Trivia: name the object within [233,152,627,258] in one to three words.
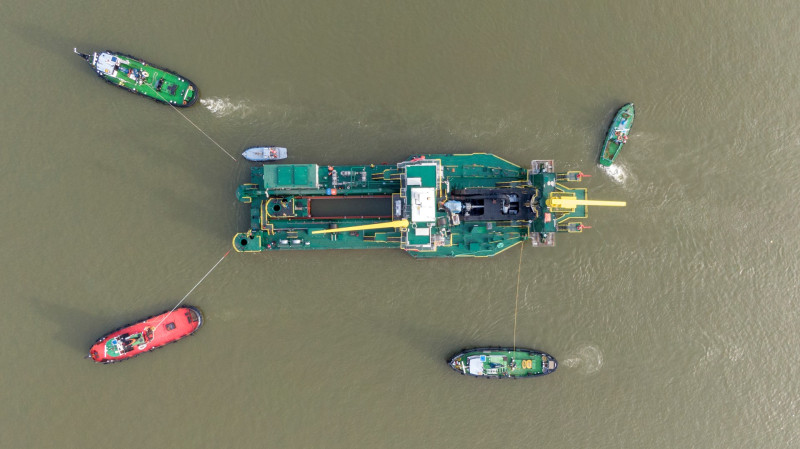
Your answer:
ship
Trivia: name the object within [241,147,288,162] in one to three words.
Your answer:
boat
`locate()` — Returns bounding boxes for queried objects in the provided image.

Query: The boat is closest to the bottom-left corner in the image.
[84,308,205,363]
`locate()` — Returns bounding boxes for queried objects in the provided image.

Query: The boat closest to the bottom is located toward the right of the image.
[447,346,559,380]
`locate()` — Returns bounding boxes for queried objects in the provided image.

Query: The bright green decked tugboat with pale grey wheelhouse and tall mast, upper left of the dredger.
[75,49,200,107]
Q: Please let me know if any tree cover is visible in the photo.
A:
No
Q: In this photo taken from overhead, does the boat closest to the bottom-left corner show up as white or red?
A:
red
